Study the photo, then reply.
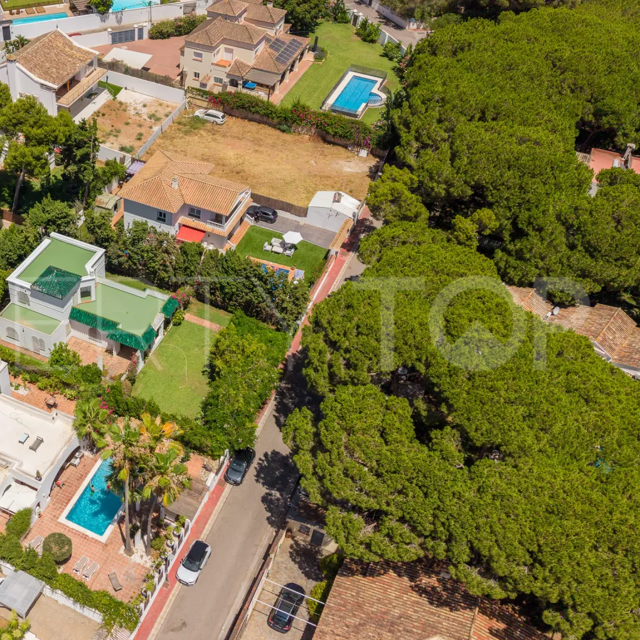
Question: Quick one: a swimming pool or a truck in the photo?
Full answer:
The one in the frame is a swimming pool.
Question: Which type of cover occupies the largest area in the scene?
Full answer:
The largest share of the image is taken up by trees.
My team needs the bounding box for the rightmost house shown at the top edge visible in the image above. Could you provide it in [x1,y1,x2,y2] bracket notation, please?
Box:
[185,0,315,94]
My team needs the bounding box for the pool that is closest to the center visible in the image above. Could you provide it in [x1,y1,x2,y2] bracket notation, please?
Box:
[255,260,295,279]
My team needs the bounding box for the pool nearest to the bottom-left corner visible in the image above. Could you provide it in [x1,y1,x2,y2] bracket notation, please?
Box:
[59,460,149,542]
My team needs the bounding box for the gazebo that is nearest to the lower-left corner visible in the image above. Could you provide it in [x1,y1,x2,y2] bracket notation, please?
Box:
[0,571,46,628]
